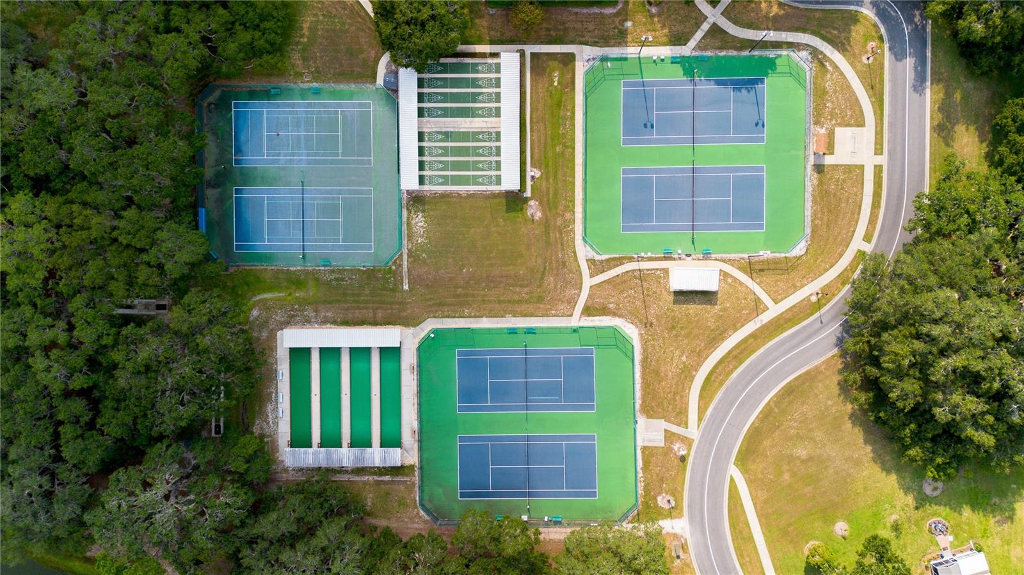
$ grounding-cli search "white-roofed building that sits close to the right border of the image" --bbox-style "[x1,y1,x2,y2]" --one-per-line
[924,540,991,575]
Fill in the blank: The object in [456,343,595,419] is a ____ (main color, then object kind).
blue tennis court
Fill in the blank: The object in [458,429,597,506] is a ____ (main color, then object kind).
blue tennis court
